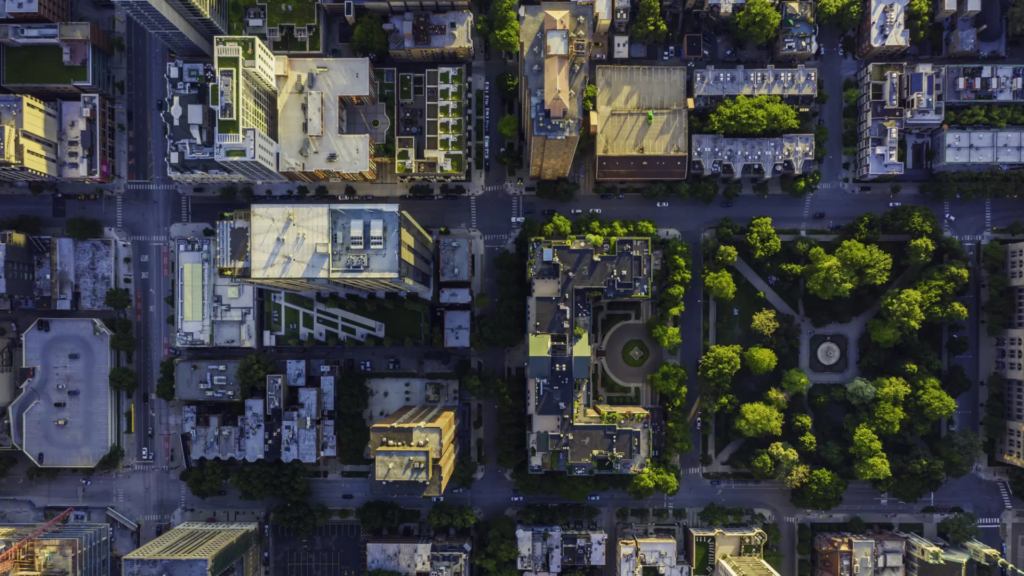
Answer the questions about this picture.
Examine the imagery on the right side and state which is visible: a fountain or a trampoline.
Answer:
fountain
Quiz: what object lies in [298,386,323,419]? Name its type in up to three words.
house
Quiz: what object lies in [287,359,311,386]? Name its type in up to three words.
house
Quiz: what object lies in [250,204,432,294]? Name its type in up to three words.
building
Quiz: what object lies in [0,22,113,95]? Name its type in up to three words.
building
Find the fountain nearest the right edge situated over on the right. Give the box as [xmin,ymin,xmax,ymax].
[818,341,842,365]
